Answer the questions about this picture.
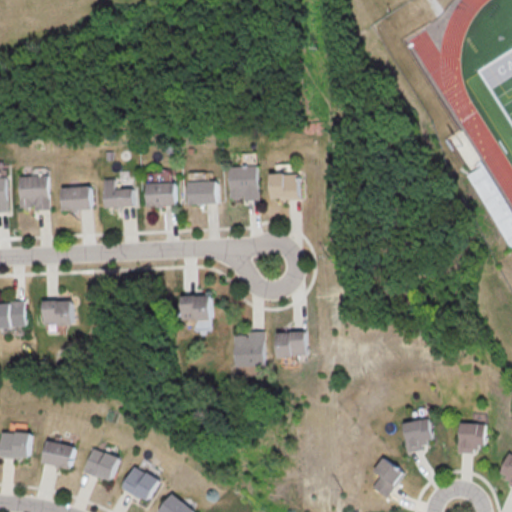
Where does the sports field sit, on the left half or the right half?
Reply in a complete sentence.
The sports field sits on the right side.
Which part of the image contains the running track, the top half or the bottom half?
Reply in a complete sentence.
The running track sits in the top half of the picture.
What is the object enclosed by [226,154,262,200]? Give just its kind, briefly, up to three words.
house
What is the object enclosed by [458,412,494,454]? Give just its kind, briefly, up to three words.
house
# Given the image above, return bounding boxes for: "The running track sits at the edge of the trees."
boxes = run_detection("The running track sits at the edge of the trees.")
[404,0,512,210]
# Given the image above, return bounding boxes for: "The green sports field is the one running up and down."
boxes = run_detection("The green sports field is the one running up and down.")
[461,0,512,164]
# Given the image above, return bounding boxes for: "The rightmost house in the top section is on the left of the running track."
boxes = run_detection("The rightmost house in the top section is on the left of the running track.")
[268,165,301,200]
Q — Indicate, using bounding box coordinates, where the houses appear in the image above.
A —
[123,462,168,501]
[58,185,92,212]
[41,436,80,470]
[370,456,404,497]
[498,452,512,486]
[102,171,141,208]
[84,448,126,481]
[274,332,310,368]
[403,419,434,454]
[39,301,74,336]
[178,296,212,327]
[0,302,30,334]
[458,412,494,454]
[268,165,301,200]
[143,169,177,209]
[157,492,204,512]
[0,424,34,460]
[16,169,54,210]
[226,154,262,200]
[232,330,268,367]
